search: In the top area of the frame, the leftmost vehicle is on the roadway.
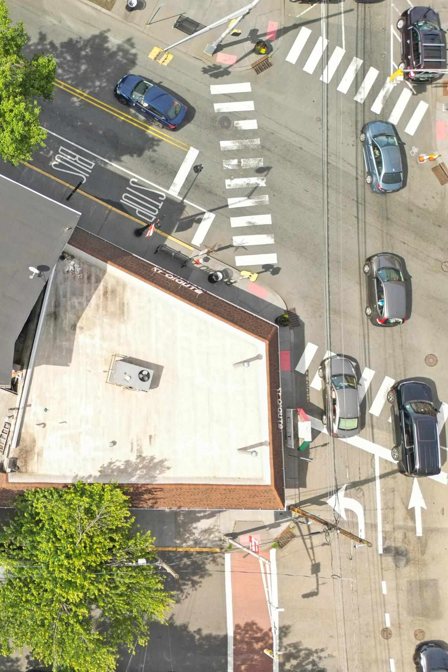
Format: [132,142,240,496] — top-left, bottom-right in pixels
[113,76,191,132]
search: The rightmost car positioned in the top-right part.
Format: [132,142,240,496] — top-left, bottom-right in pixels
[398,7,447,84]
